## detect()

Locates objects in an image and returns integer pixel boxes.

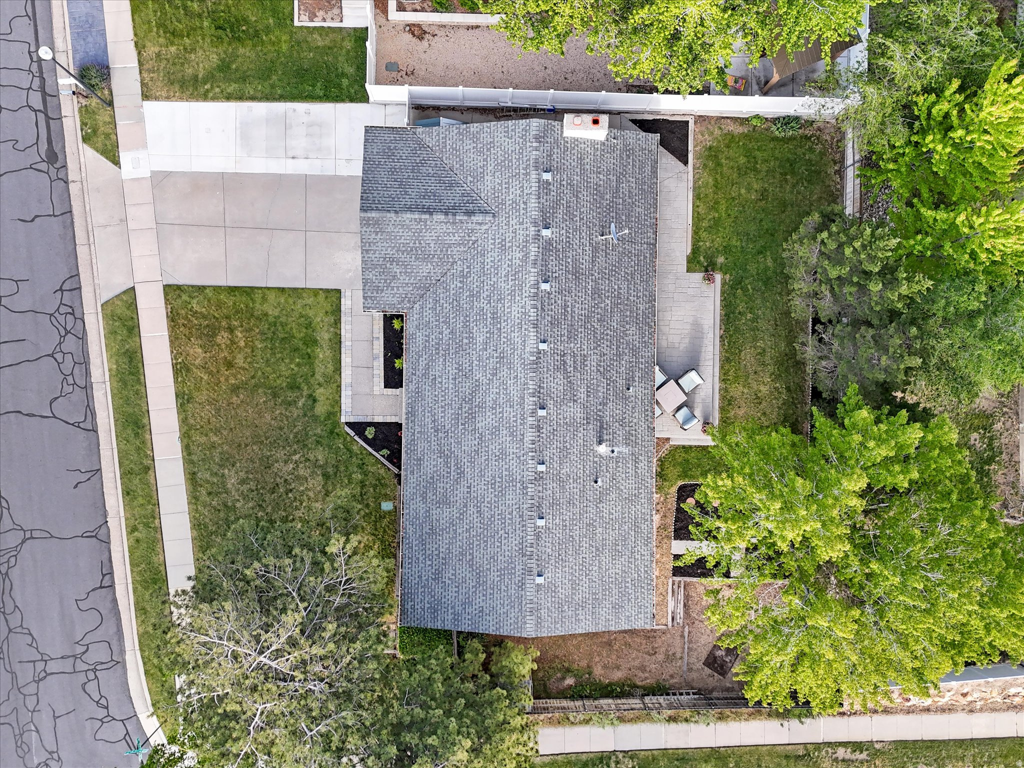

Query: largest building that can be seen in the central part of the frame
[358,114,660,639]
